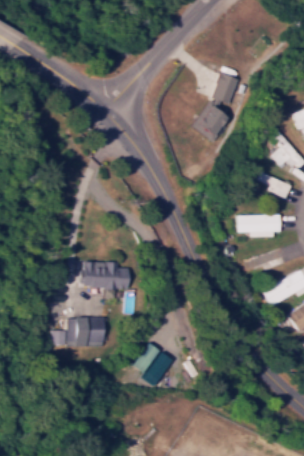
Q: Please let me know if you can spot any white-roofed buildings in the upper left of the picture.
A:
No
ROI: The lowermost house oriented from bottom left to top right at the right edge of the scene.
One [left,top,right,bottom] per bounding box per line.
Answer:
[262,266,304,304]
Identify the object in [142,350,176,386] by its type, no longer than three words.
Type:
barn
